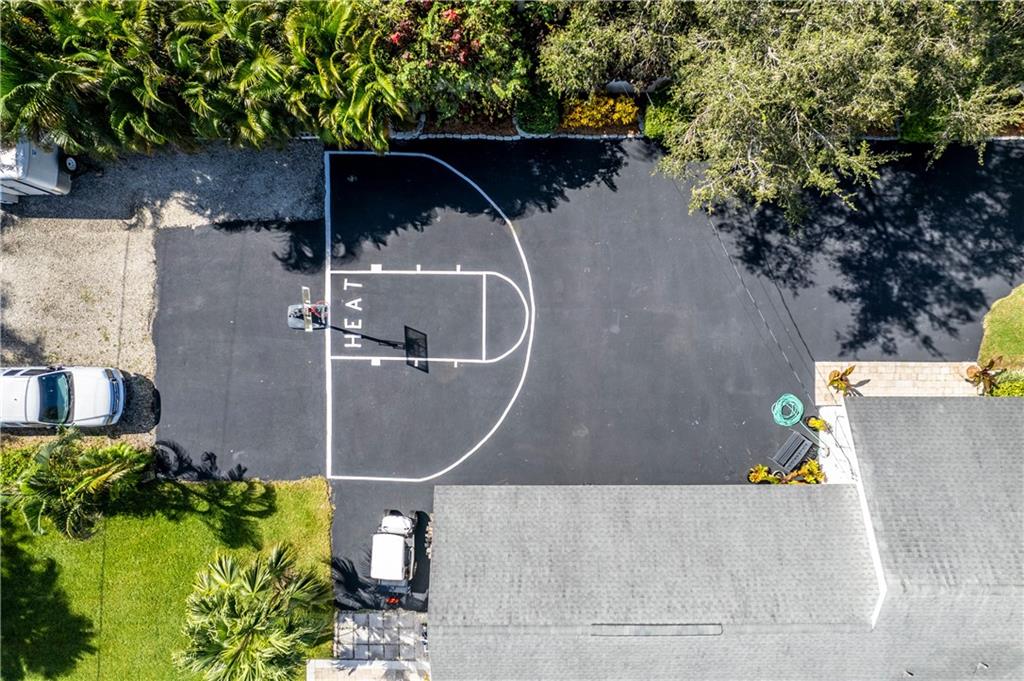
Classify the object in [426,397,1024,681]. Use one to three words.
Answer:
house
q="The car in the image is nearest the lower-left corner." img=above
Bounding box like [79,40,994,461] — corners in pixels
[0,362,126,432]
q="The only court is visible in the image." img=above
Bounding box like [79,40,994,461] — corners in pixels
[325,150,535,481]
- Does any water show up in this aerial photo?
No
